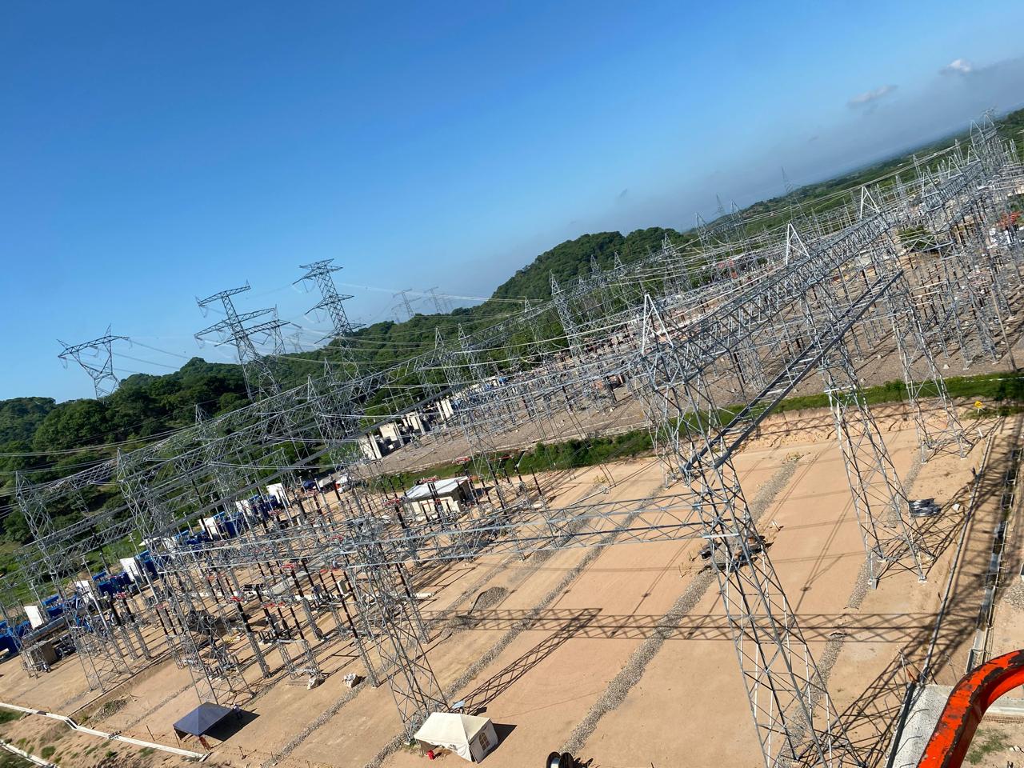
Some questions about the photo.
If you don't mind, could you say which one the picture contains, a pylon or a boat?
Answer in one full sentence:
The one in the frame is a pylon.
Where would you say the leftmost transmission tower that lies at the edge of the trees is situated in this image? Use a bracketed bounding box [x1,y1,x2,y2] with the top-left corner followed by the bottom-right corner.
[55,317,135,404]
